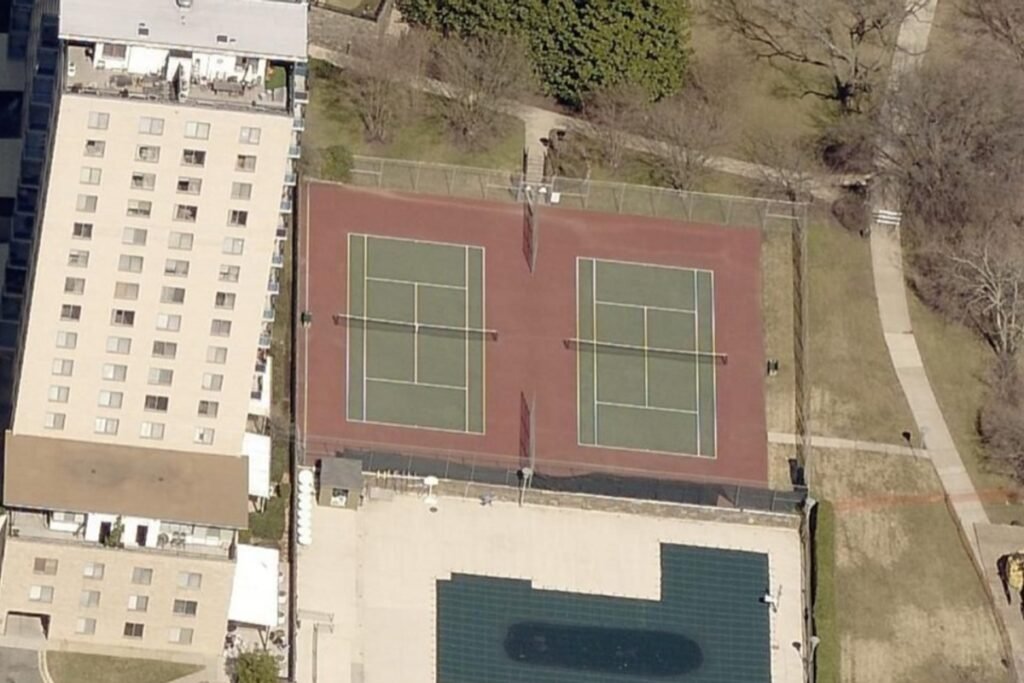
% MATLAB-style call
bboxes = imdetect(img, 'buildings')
[318,459,361,509]
[0,0,308,656]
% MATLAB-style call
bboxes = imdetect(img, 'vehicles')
[1004,554,1024,595]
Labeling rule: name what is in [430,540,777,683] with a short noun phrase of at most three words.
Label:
swimming pool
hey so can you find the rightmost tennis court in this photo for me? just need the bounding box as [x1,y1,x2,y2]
[531,204,766,511]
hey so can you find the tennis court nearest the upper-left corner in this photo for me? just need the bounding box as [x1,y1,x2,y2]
[300,181,531,488]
